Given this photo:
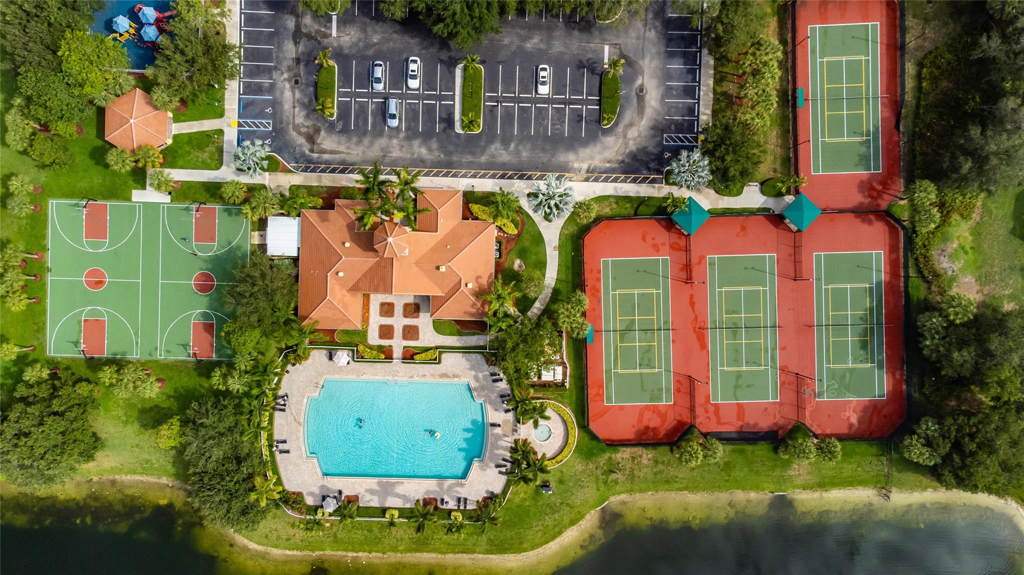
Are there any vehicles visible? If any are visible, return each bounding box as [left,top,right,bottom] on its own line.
[406,57,421,89]
[537,65,550,95]
[371,60,385,91]
[385,96,399,128]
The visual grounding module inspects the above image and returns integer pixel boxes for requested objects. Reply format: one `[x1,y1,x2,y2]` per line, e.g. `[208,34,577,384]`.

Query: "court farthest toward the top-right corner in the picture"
[789,0,901,211]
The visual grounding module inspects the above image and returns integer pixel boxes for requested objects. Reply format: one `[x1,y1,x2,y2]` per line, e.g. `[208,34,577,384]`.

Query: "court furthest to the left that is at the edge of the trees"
[46,199,151,359]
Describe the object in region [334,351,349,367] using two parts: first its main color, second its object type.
white umbrella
